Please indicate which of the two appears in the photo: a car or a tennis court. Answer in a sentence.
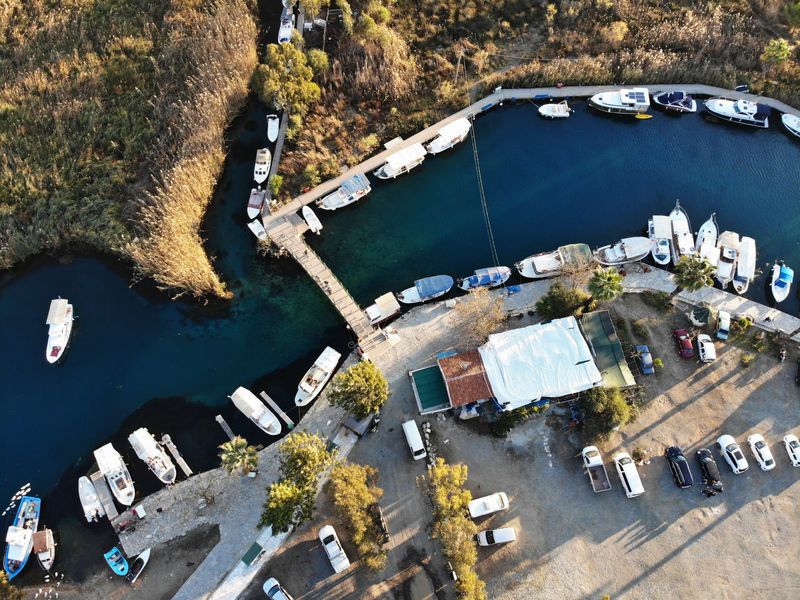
Visible in the photo is a car.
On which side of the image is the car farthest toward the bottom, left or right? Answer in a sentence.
The car farthest toward the bottom appears in the left half of the scene.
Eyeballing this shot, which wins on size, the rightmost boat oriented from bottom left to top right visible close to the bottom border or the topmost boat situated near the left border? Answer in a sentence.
The larger object is the topmost boat situated near the left border, with the rightmost boat oriented from bottom left to top right visible close to the bottom border being the smaller of the pair.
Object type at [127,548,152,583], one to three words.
boat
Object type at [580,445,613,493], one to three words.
truck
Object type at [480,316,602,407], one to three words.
building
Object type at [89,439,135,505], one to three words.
boat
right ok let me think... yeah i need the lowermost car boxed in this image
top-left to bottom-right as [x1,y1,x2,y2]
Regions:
[261,575,295,600]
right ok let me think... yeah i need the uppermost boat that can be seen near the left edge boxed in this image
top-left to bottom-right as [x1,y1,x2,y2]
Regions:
[38,289,74,362]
